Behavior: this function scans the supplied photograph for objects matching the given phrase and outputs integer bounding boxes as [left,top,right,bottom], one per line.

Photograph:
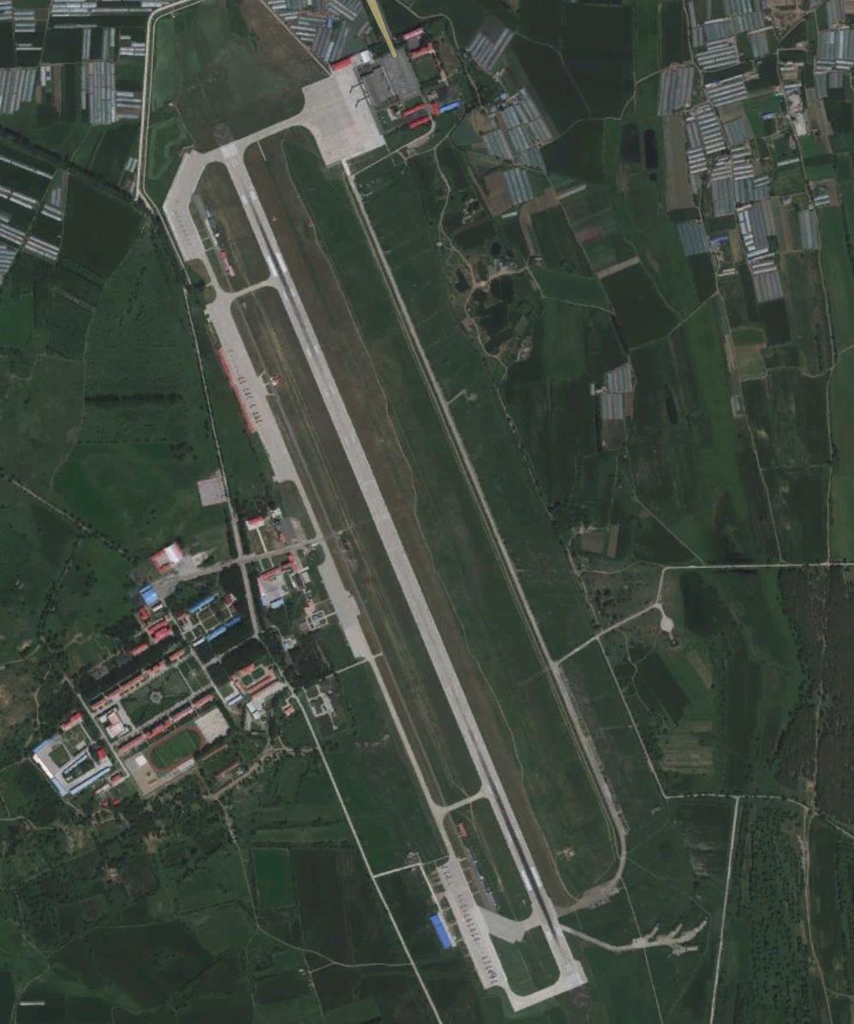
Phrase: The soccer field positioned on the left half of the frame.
[152,729,202,767]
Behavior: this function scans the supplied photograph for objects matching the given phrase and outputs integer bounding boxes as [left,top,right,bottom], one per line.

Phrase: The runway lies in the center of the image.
[220,141,582,984]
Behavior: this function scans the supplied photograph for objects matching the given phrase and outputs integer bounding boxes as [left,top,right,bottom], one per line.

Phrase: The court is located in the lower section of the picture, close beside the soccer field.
[132,762,159,794]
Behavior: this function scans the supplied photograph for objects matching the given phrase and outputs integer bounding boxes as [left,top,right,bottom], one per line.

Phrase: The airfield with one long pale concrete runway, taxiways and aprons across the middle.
[164,68,588,1011]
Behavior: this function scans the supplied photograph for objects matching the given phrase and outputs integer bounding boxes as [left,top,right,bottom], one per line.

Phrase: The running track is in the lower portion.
[147,725,206,772]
